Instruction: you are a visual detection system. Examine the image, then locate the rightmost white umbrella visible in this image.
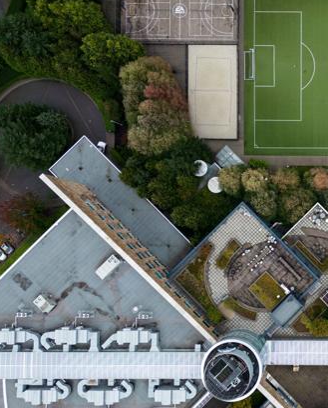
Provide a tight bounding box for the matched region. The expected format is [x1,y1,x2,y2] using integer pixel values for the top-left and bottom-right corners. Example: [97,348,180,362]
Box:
[208,177,223,193]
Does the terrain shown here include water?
No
